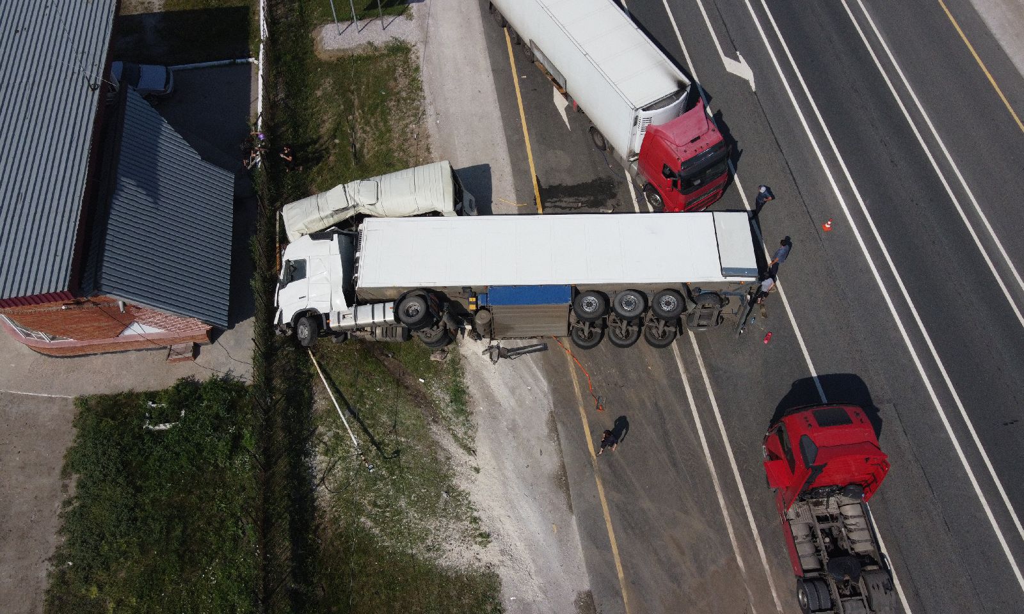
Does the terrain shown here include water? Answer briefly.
No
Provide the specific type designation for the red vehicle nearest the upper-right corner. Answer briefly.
truck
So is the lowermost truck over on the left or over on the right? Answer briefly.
right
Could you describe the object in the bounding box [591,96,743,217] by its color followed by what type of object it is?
red truck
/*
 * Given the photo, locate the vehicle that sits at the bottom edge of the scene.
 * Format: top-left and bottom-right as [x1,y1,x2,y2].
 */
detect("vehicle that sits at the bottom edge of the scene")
[755,400,903,614]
